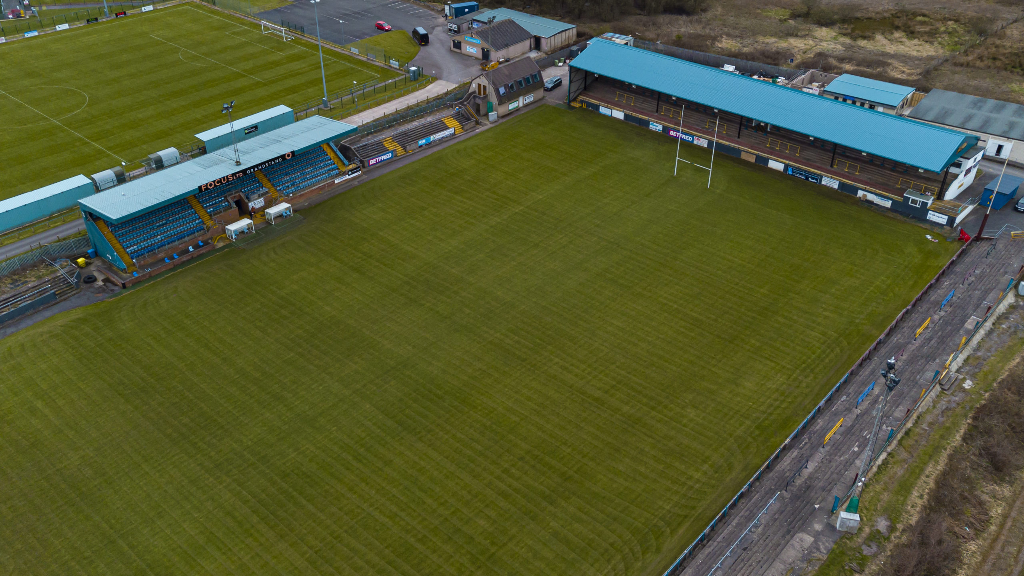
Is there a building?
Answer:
Yes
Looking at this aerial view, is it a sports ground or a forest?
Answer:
sports ground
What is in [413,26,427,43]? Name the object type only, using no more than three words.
vehicle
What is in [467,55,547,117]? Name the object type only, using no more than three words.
building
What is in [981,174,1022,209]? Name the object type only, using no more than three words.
shed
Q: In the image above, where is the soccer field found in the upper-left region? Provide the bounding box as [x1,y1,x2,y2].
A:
[0,1,405,196]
